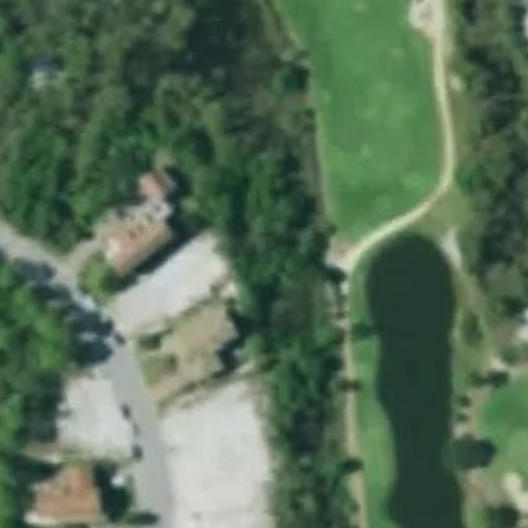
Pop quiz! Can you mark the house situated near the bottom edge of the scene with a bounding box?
[25,464,99,526]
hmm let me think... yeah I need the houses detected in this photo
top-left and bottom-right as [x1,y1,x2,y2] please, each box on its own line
[99,193,170,268]
[25,464,99,526]
[163,308,240,386]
